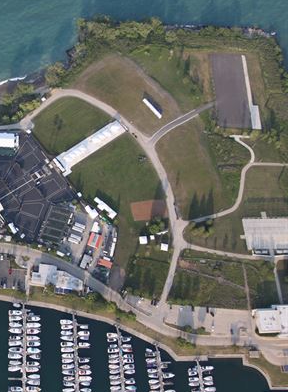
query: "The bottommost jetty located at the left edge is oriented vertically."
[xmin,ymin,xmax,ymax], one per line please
[8,299,42,392]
